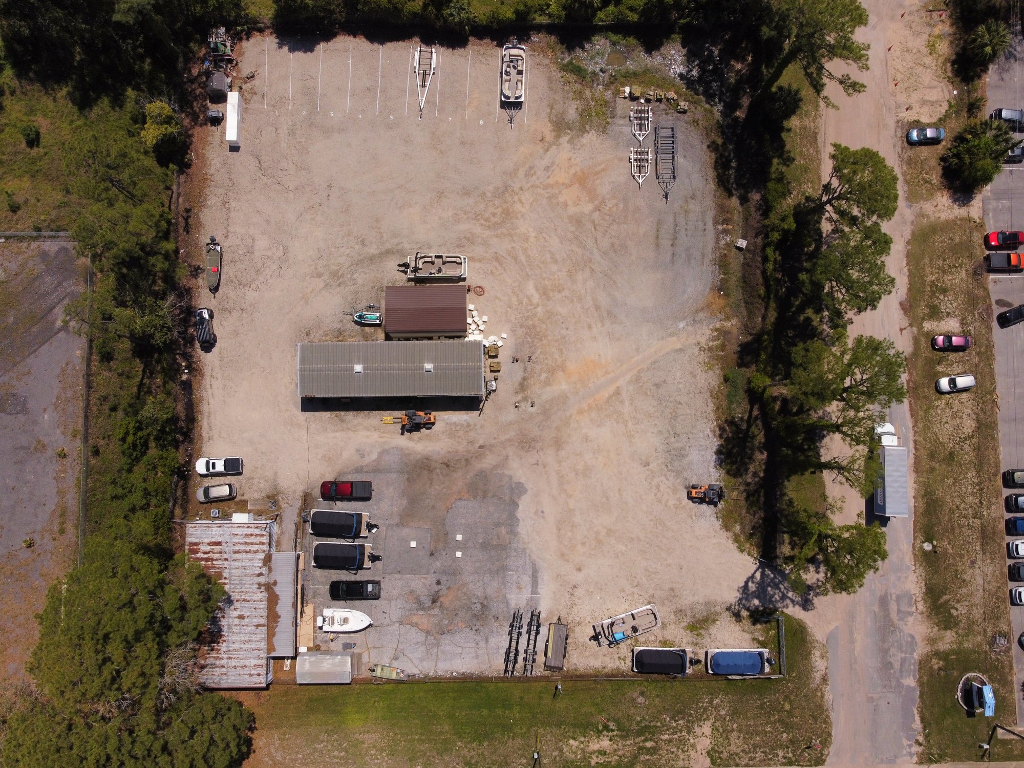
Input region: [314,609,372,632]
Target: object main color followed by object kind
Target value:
white boat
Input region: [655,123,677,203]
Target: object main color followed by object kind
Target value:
gray trailer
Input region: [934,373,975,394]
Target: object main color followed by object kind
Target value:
white car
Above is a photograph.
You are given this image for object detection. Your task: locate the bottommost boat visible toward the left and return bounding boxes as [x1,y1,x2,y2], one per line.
[368,661,410,681]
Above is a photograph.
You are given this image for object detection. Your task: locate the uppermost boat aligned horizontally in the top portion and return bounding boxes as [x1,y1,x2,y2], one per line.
[397,255,467,278]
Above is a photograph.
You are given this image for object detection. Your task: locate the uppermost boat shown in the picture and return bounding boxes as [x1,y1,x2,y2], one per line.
[502,38,525,105]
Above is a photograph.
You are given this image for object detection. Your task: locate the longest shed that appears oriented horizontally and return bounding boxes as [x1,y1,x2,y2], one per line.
[296,341,484,399]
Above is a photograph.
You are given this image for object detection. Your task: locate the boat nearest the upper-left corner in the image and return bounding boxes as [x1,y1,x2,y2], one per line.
[207,235,222,291]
